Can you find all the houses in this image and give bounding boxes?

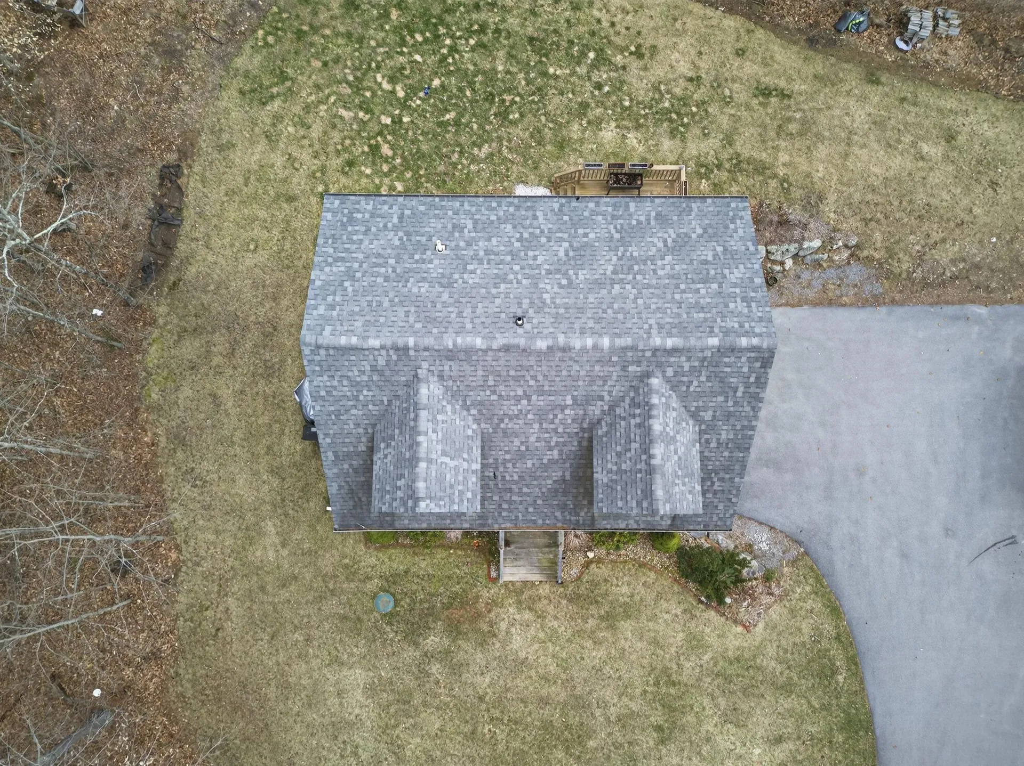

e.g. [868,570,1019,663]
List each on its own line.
[299,191,778,537]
